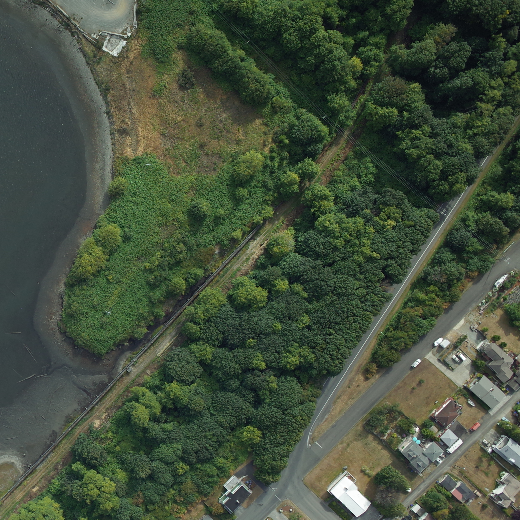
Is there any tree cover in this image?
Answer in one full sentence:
Yes, tree cover shows up in the scene.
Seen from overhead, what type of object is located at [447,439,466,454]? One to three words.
camper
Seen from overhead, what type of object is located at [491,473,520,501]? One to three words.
house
